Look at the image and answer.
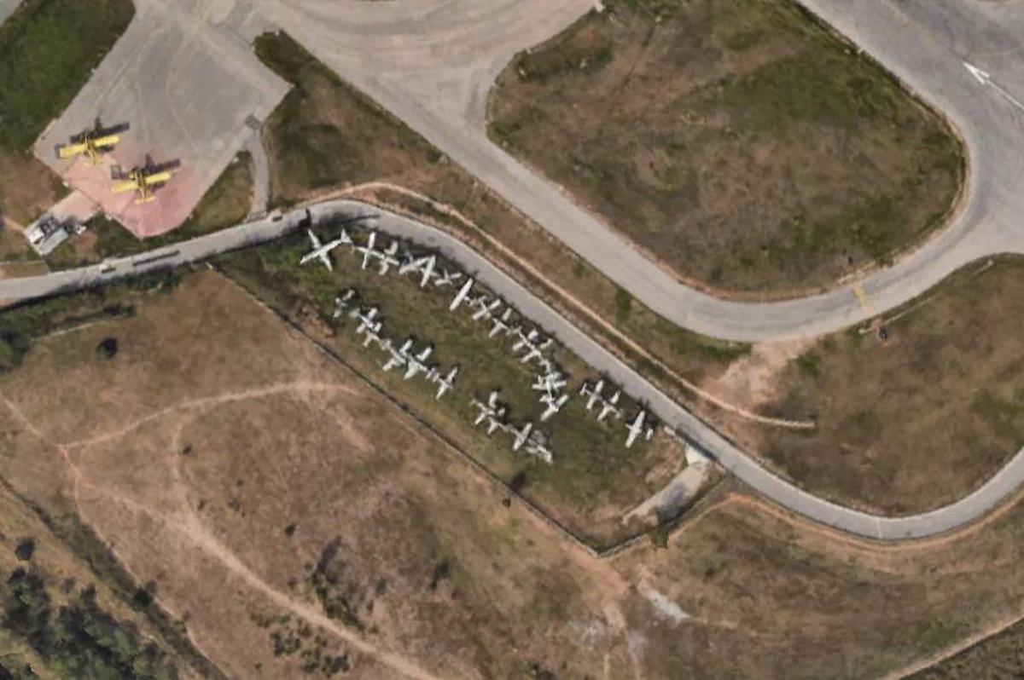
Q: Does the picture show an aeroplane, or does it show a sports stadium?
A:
aeroplane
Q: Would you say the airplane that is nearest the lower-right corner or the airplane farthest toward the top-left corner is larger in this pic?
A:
the airplane farthest toward the top-left corner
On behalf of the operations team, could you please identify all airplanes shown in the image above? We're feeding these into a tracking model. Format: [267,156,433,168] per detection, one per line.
[449,277,476,311]
[487,409,510,436]
[539,394,569,422]
[580,381,604,410]
[433,367,457,399]
[382,338,411,370]
[472,391,498,425]
[380,241,403,274]
[532,372,567,395]
[526,433,555,461]
[55,125,118,168]
[597,392,623,420]
[363,322,385,347]
[471,296,500,318]
[333,290,355,318]
[625,411,651,449]
[435,267,461,287]
[108,162,170,205]
[354,234,382,269]
[398,251,428,273]
[418,254,441,287]
[488,308,512,339]
[511,326,539,351]
[507,423,533,451]
[521,339,553,366]
[351,306,377,333]
[300,227,354,270]
[404,347,433,381]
